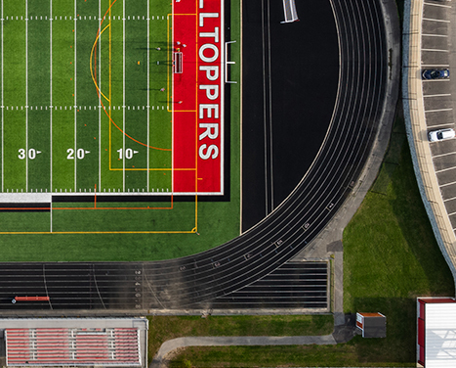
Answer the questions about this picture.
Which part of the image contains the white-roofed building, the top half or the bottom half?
bottom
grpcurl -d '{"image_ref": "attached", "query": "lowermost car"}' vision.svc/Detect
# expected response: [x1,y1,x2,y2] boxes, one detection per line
[428,128,456,142]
